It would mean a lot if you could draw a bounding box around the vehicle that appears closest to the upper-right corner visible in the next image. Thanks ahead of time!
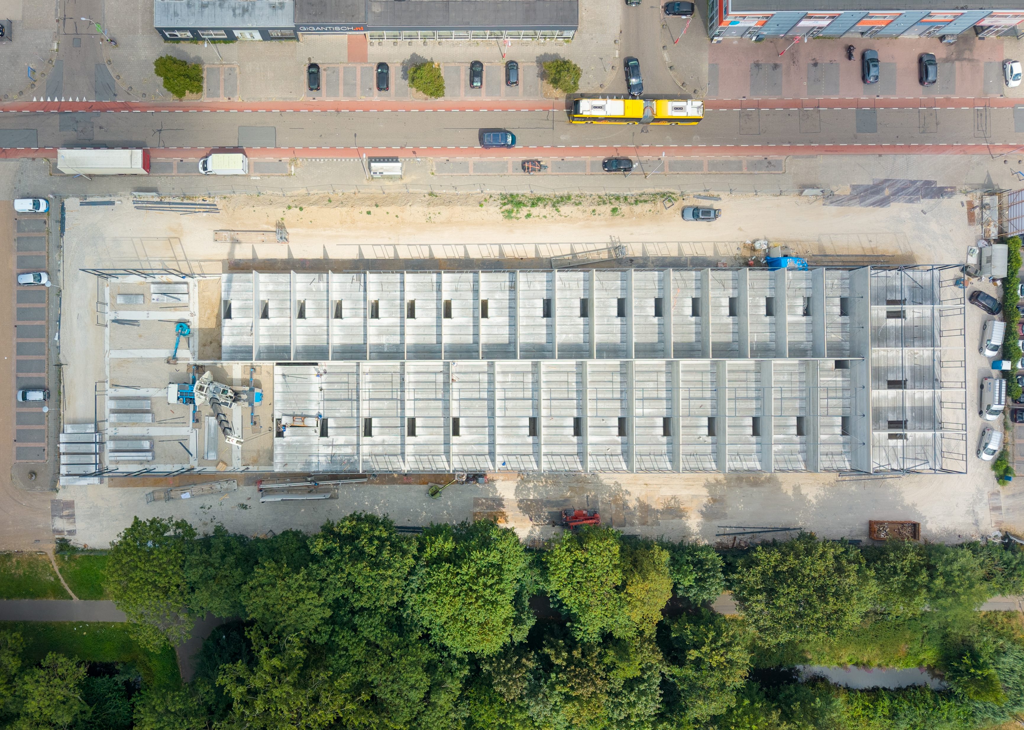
[1002,60,1023,88]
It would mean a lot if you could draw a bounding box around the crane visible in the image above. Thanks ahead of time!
[168,365,301,446]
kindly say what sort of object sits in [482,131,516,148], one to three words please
vehicle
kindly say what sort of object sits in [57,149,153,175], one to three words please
trailer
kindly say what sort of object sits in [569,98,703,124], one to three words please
bus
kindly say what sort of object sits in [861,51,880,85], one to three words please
car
